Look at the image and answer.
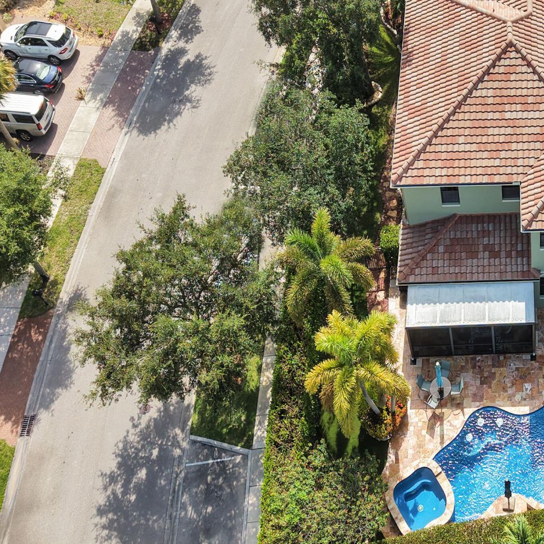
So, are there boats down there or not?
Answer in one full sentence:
No, the scene contains no boat.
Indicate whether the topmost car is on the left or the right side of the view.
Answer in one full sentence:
You can find the topmost car on the left side of the picture.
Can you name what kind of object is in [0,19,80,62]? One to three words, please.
car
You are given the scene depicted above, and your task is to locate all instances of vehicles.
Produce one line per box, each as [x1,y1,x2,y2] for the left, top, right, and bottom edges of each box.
[1,54,62,95]
[0,19,80,62]
[0,92,54,141]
